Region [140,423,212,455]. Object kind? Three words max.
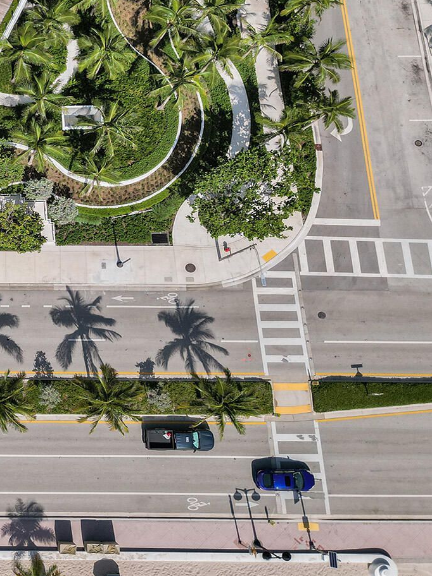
truck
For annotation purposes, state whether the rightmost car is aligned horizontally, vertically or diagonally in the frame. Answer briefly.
horizontally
